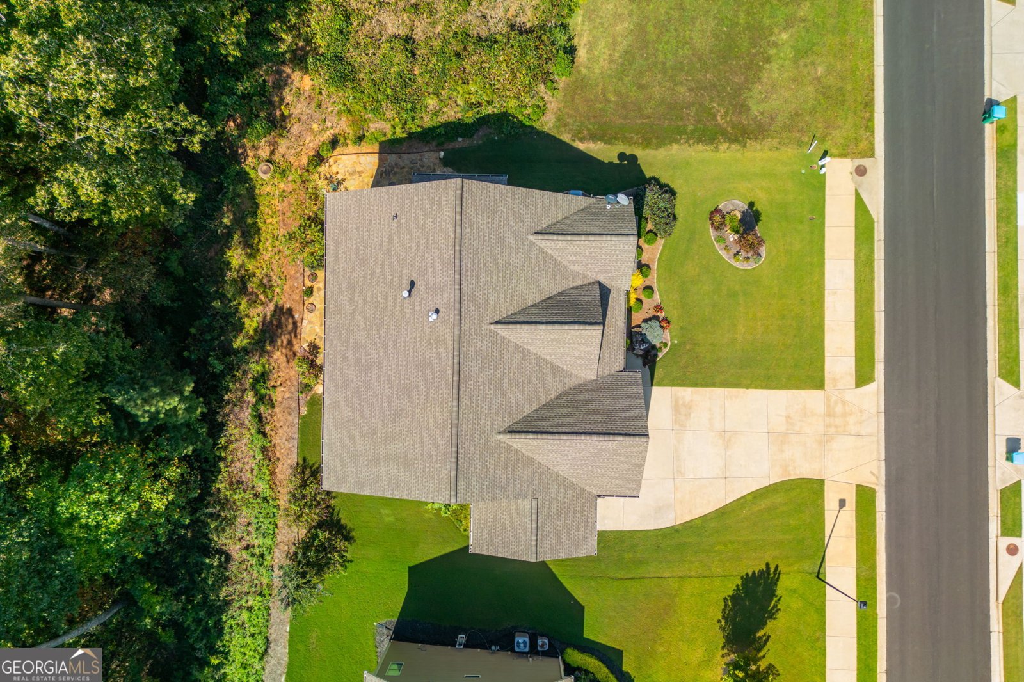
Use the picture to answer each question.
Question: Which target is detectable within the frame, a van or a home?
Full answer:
Visible in the photo is a home.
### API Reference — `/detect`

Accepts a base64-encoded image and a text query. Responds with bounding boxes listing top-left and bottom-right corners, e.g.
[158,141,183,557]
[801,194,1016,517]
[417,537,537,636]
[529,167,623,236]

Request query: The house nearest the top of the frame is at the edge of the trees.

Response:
[318,167,649,562]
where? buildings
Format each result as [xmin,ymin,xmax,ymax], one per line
[318,167,649,562]
[363,640,570,682]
